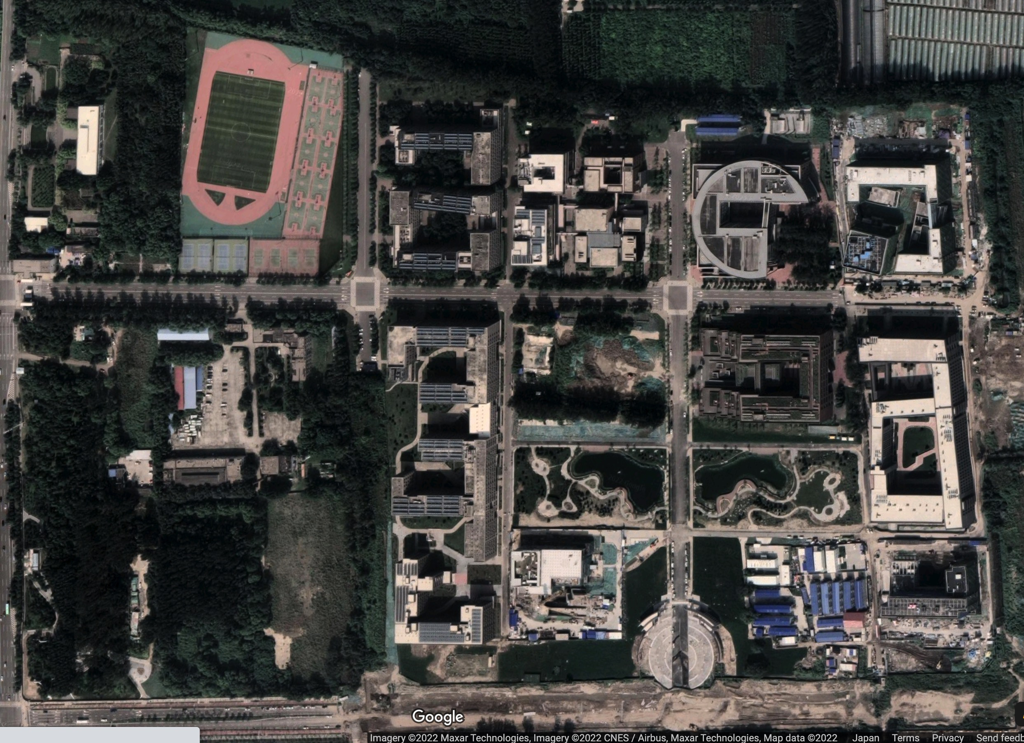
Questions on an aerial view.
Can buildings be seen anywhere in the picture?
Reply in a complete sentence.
Yes, the image includes a building.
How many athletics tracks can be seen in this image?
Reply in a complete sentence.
Altogether the scene contains 1 athletics track.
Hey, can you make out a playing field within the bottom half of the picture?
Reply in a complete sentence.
No, there's no playing field to be seen within the bottom half of the picture.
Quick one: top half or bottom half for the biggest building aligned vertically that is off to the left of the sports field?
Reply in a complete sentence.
You can find the biggest building aligned vertically that is off to the left of the sports field in the top half.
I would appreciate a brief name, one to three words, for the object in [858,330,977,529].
building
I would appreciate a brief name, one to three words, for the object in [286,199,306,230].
basketball court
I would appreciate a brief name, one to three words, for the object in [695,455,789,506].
pond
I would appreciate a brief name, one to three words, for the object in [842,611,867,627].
shed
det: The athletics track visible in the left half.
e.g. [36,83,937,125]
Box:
[181,39,310,226]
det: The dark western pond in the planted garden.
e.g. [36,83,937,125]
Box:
[572,452,664,510]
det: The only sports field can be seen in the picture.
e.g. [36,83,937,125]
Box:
[180,33,344,238]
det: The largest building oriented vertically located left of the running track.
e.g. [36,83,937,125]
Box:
[76,104,106,173]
